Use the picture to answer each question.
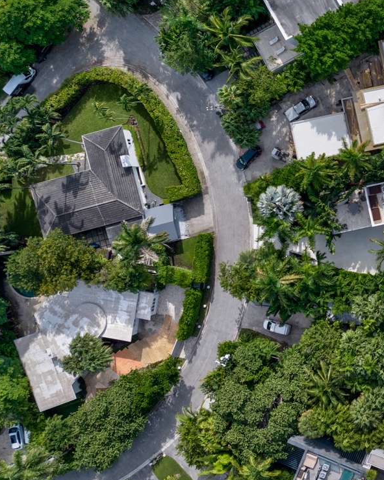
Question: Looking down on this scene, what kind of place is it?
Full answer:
It's a residential area.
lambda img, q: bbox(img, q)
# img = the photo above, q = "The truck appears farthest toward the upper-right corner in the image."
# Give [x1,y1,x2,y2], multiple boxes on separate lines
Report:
[283,94,320,122]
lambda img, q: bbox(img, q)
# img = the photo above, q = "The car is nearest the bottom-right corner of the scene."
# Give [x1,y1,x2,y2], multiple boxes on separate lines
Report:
[263,317,294,336]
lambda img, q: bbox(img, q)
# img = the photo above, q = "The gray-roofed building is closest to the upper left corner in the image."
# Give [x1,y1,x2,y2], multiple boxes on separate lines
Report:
[29,125,152,249]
